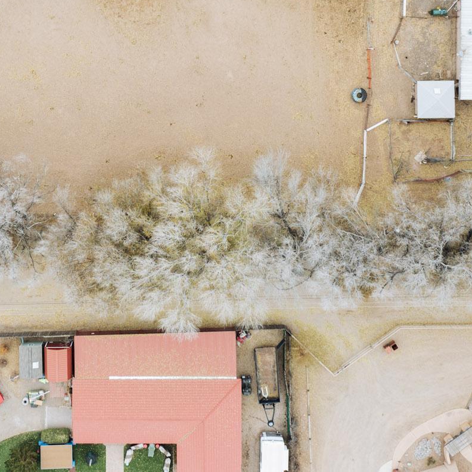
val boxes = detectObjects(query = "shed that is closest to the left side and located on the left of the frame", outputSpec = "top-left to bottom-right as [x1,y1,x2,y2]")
[19,341,44,379]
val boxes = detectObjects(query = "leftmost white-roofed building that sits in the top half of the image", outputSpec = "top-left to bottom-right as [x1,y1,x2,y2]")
[411,81,455,118]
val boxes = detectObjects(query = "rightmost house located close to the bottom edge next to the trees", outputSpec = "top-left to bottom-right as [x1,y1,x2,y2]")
[72,325,242,472]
